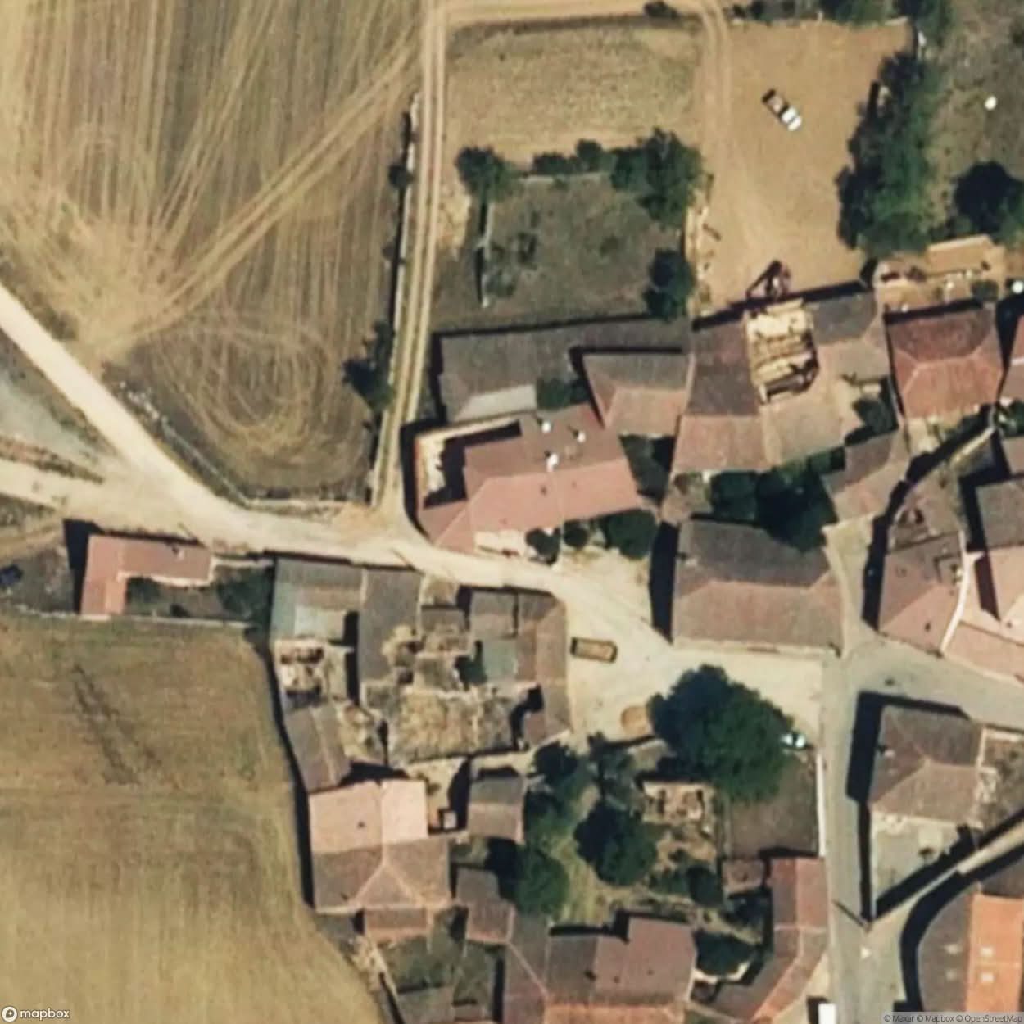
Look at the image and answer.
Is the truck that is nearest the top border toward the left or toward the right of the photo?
right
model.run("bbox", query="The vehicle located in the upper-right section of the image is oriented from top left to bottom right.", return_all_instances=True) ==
[764,92,801,130]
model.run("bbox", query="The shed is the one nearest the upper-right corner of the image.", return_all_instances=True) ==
[930,236,988,274]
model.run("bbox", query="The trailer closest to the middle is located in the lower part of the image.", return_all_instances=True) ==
[566,637,617,662]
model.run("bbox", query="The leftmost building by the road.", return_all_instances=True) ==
[82,537,211,615]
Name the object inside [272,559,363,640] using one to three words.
barn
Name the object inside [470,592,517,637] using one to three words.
shed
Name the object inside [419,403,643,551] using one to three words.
house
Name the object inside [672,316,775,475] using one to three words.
barn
